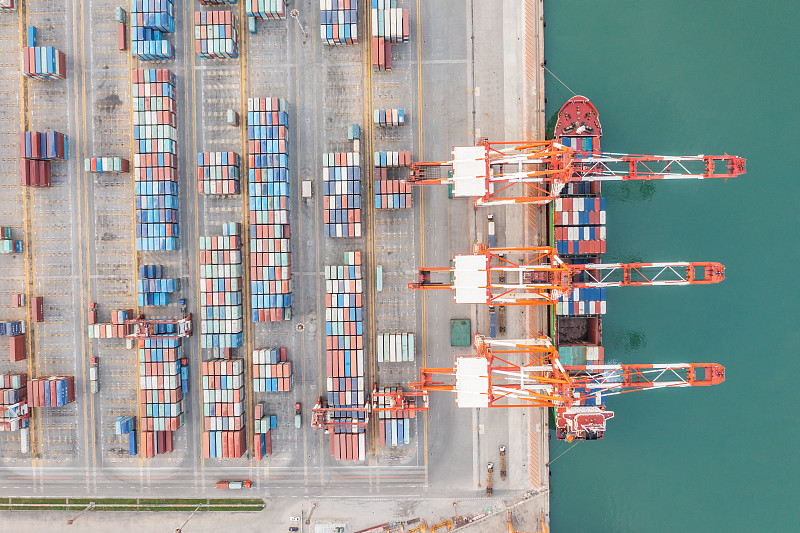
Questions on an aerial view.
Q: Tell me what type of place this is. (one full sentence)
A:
The picture captures a port.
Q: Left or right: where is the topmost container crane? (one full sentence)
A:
The topmost container crane appears in the right half of the scene.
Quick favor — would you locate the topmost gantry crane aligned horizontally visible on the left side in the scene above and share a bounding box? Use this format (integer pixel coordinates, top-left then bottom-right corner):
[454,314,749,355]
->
[122,309,195,341]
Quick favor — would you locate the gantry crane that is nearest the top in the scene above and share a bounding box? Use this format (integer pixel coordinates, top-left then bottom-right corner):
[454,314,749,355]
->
[396,131,747,216]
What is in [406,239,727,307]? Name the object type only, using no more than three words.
container crane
